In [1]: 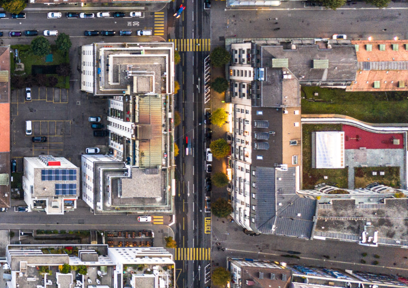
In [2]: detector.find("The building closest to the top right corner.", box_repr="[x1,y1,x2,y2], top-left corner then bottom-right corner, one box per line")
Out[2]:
[322,41,408,91]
